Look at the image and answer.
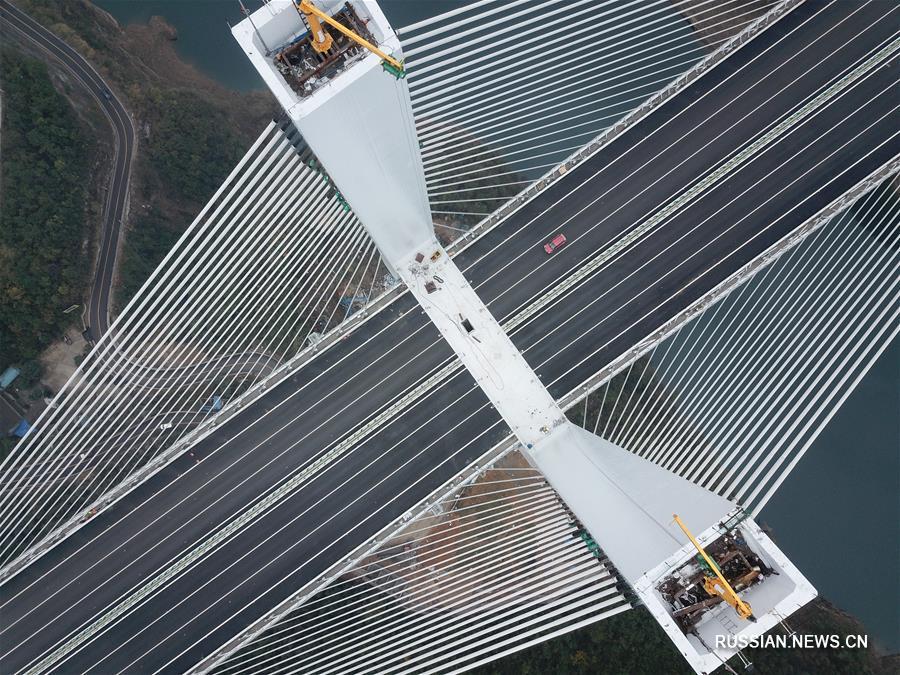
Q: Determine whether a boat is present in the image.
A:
No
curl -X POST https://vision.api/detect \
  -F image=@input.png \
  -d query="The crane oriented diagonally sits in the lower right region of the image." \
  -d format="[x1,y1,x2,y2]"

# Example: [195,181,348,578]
[670,512,761,629]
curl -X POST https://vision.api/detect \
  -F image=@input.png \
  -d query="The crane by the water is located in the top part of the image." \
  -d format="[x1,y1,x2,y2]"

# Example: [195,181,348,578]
[286,0,404,78]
